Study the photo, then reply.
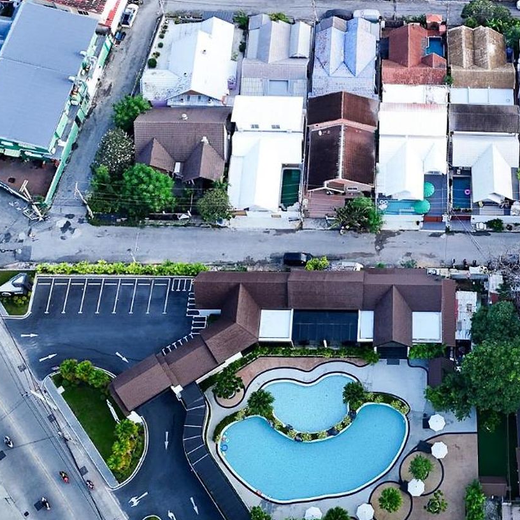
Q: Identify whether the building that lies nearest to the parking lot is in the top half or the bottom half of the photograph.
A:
bottom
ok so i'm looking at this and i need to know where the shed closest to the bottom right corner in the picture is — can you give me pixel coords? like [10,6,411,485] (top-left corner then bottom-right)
[481,477,507,496]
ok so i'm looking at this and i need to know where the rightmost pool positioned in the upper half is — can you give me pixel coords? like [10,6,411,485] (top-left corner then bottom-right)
[452,175,472,210]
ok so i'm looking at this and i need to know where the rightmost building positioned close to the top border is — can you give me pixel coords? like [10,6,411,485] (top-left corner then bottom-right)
[448,23,516,106]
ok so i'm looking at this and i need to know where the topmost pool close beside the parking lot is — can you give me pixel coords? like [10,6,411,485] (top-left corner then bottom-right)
[259,373,360,434]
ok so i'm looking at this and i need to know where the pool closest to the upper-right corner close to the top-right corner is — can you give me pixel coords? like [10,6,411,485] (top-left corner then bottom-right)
[428,36,445,56]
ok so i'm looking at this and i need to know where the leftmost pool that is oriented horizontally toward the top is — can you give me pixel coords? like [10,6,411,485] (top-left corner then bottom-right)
[378,198,417,214]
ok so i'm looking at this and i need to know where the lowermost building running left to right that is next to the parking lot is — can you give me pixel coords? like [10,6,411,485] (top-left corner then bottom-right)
[109,269,442,415]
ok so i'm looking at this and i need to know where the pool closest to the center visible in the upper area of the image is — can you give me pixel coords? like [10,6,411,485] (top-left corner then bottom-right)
[280,169,302,208]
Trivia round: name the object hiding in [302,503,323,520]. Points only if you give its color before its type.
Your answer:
white umbrella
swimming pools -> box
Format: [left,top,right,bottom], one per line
[218,402,409,503]
[259,373,360,434]
[280,169,302,208]
[452,175,472,210]
[428,36,445,56]
[378,198,417,214]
